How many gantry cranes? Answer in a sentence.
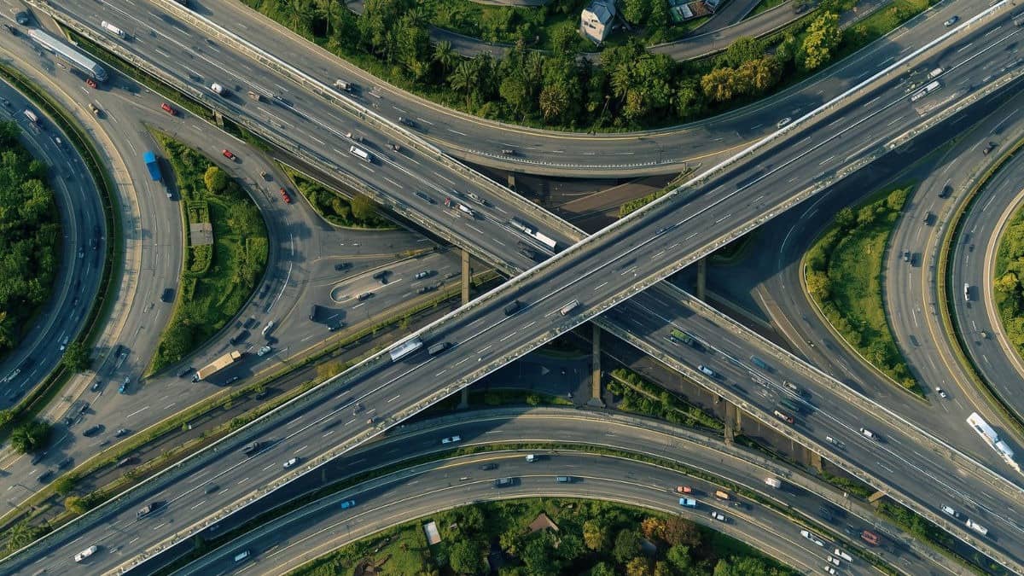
No gantry cranes are visible.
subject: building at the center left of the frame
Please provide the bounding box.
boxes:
[188,224,213,249]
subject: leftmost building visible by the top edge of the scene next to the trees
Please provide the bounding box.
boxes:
[583,0,619,42]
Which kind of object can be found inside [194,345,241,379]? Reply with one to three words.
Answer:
truck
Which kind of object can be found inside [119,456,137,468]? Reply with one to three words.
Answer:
vehicle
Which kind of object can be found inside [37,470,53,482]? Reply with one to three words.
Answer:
vehicle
